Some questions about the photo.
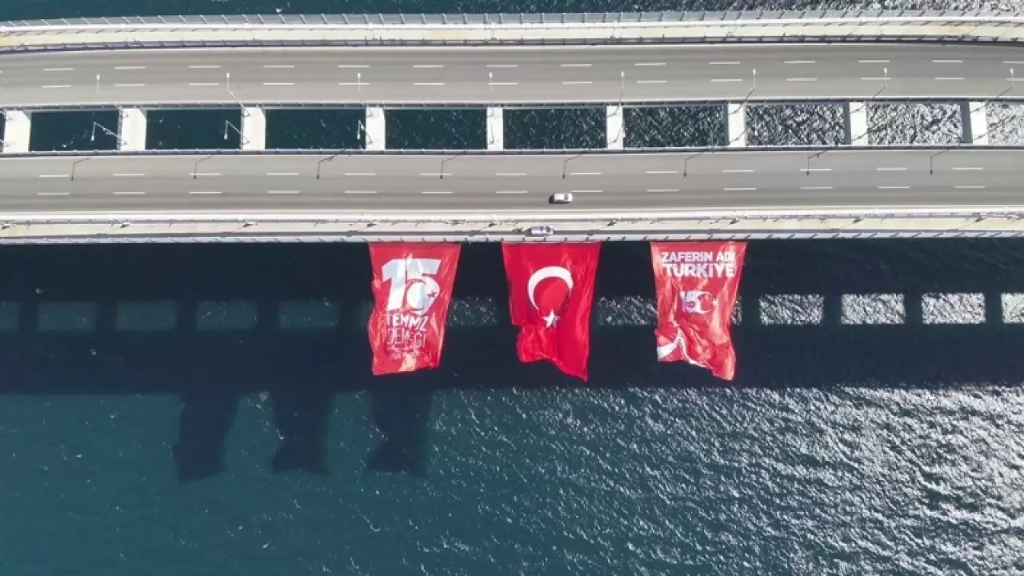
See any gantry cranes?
No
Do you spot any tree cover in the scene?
No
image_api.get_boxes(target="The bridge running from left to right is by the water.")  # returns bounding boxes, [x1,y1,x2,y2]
[0,17,1024,245]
